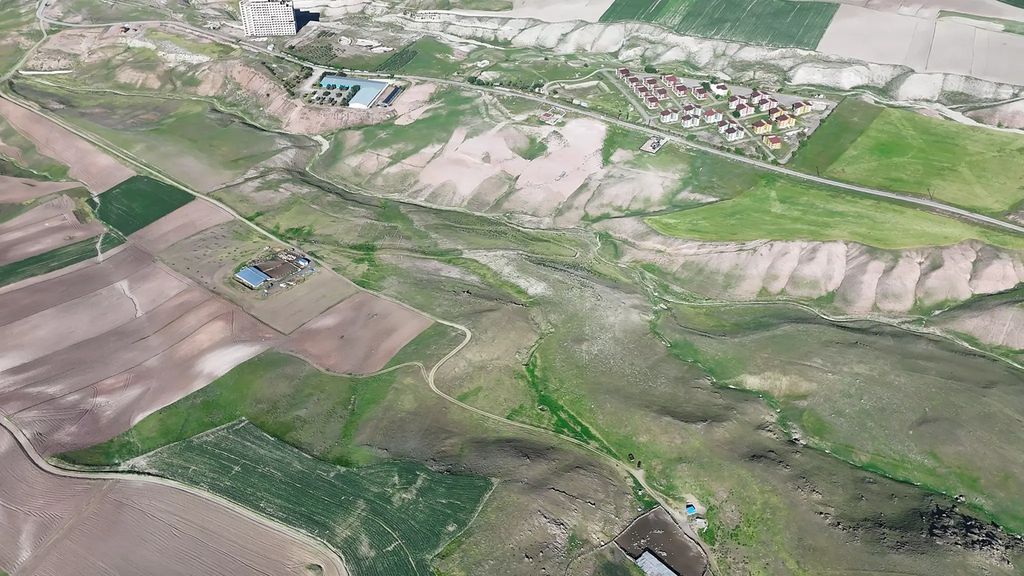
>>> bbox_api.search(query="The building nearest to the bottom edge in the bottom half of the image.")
[635,548,676,576]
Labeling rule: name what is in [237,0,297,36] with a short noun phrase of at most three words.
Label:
building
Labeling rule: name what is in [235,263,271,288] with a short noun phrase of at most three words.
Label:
barn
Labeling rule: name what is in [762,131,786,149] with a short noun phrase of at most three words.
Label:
house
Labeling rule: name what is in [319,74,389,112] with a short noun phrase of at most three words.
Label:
building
